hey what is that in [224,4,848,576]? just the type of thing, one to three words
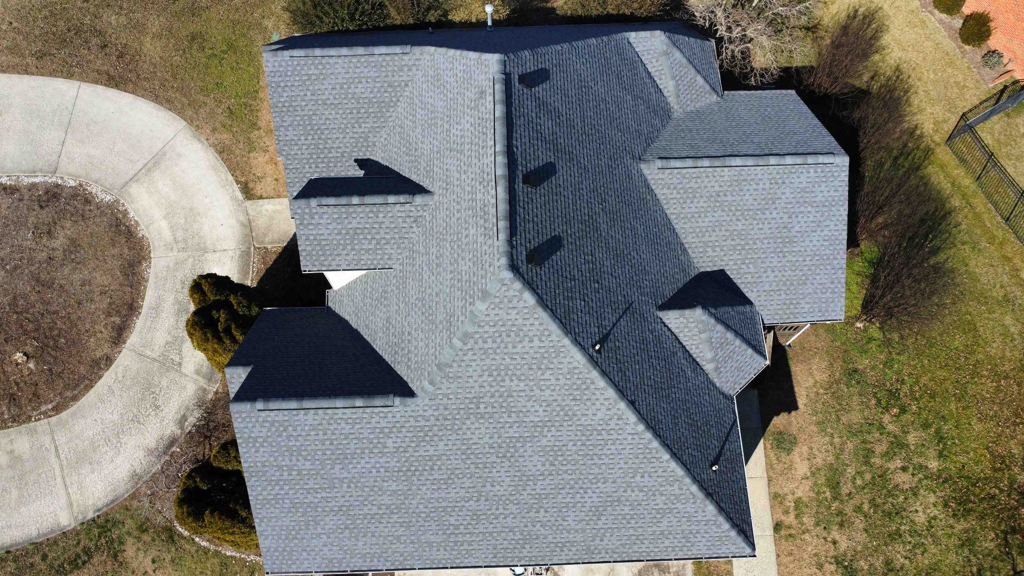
house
